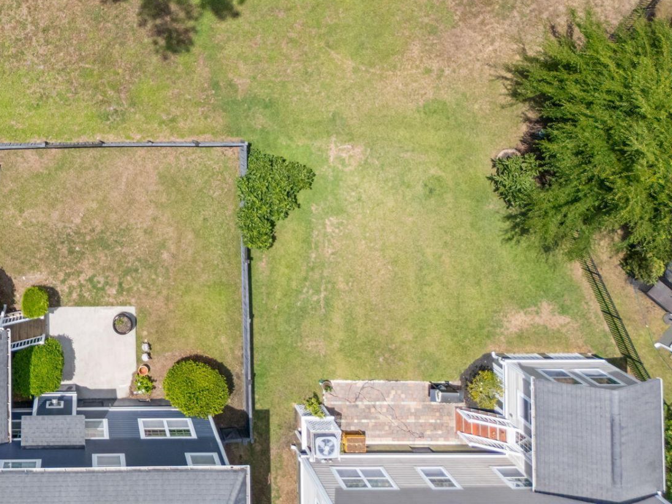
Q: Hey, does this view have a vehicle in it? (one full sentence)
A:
No, there is no vehicle in the image.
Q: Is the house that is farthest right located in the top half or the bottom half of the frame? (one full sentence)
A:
It is in the bottom half that the house that is farthest right appears.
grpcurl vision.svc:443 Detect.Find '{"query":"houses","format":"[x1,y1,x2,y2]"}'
[0,312,250,504]
[285,343,672,504]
